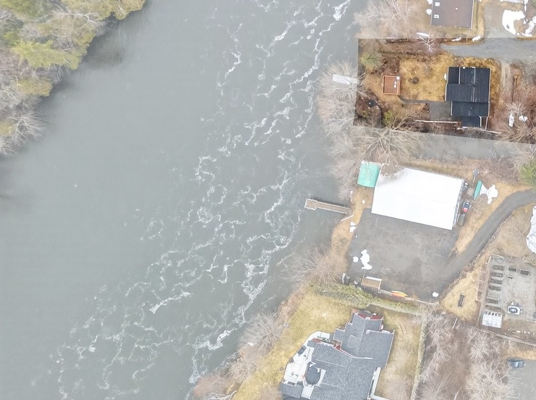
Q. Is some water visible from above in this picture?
Yes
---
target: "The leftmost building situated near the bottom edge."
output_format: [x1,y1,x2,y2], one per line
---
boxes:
[280,309,397,400]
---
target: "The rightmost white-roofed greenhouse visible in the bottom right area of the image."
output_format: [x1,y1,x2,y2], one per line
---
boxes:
[482,310,502,328]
